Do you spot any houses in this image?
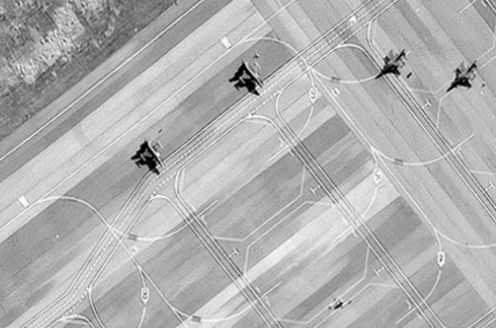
No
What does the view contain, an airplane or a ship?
airplane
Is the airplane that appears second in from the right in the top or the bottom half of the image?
top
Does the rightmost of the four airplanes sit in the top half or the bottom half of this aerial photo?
top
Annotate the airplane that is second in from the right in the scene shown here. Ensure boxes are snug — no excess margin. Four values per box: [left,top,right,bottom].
[381,46,413,72]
